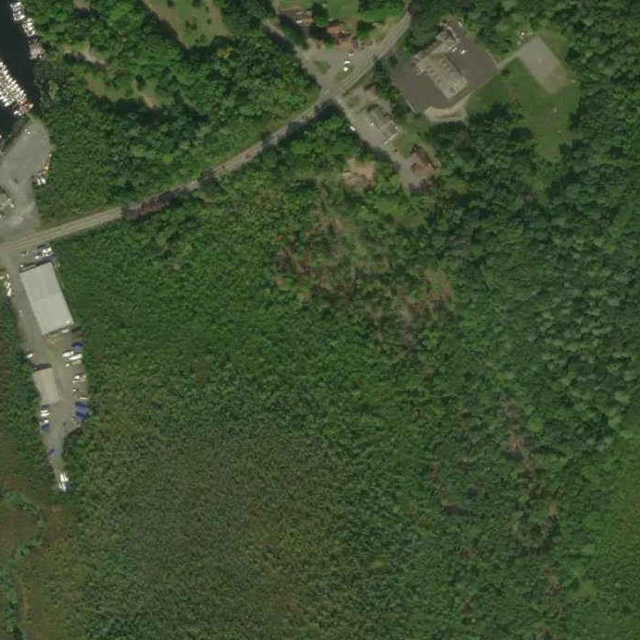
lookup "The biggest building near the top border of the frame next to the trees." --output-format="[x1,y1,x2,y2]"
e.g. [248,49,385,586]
[414,25,466,99]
